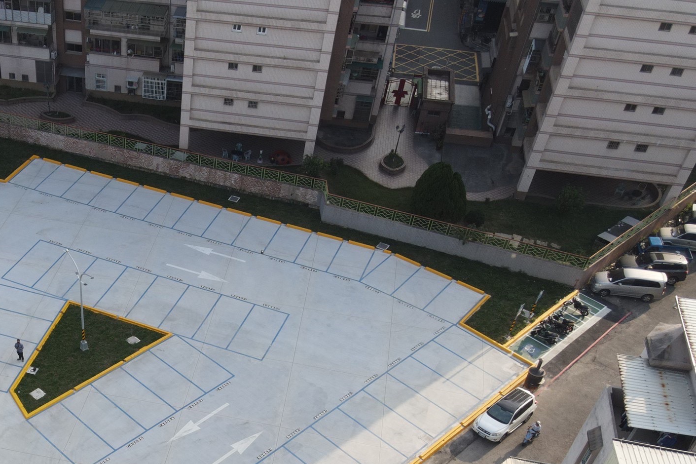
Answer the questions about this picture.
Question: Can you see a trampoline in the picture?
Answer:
No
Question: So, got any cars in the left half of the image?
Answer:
No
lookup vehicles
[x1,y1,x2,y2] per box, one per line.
[673,202,696,225]
[587,268,661,307]
[469,389,538,446]
[624,237,695,272]
[542,315,567,339]
[648,223,696,257]
[563,295,589,318]
[615,251,689,287]
[548,310,574,333]
[532,324,557,347]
